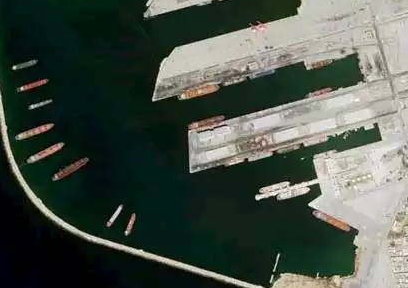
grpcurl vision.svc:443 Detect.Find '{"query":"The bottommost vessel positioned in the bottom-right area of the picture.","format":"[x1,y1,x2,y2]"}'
[314,210,350,230]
